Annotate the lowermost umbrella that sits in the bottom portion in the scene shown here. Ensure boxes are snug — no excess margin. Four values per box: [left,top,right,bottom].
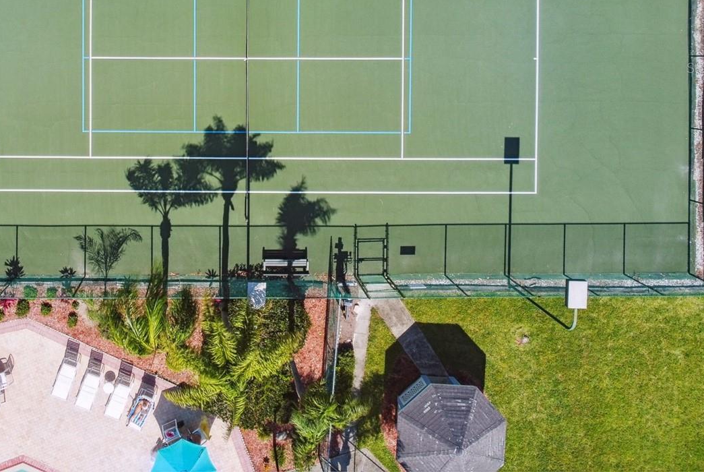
[152,438,217,472]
